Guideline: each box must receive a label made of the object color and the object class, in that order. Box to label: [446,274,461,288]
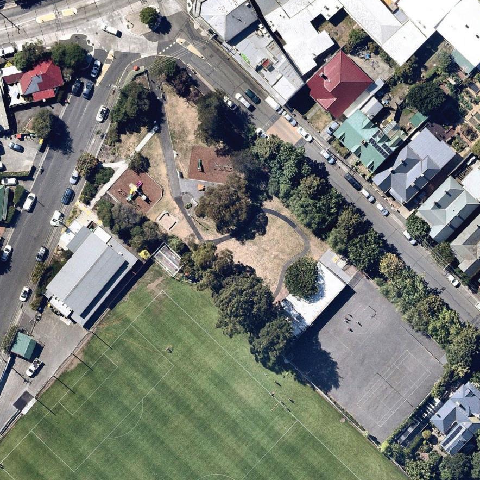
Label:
white vehicle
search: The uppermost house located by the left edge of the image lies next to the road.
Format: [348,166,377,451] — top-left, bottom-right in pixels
[1,61,64,102]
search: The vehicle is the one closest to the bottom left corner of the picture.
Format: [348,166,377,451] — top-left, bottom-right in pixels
[26,358,43,377]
